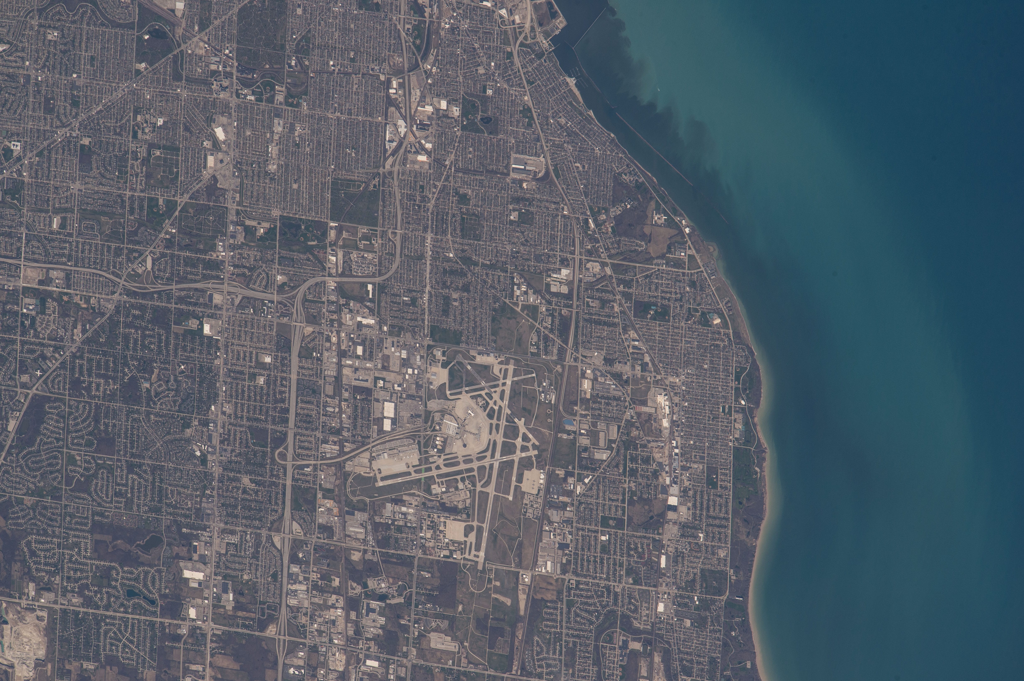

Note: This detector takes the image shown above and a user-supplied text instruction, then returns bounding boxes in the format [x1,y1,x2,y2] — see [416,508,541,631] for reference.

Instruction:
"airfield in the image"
[348,347,564,570]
